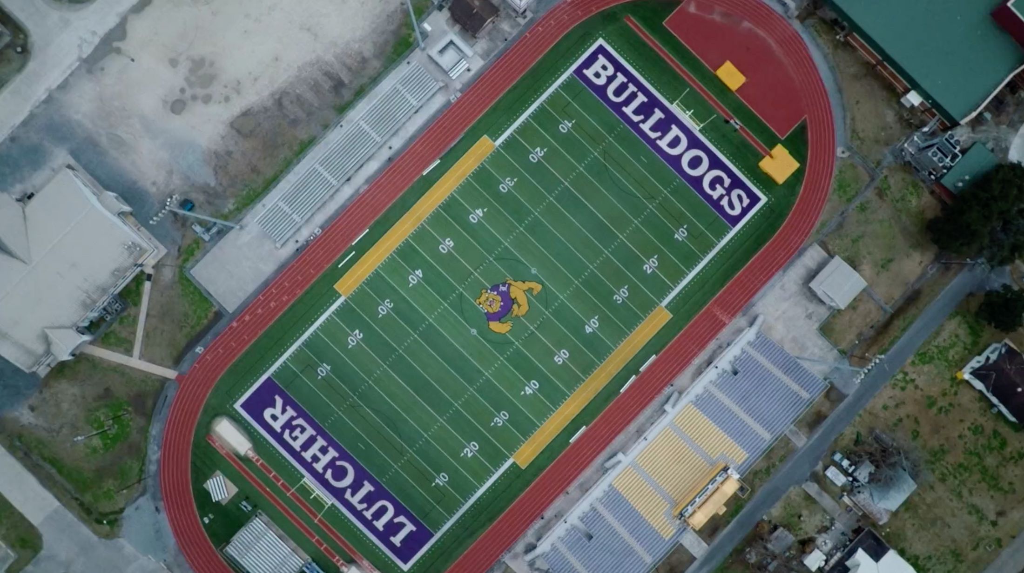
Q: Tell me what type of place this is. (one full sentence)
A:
This looks like a sports ground.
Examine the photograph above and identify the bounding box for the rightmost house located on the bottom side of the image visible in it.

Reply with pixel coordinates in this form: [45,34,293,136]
[961,337,1024,422]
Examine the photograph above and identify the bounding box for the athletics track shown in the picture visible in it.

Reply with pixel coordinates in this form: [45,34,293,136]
[160,0,835,573]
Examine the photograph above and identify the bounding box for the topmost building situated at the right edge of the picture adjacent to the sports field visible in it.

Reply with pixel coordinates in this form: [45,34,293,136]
[813,0,1024,130]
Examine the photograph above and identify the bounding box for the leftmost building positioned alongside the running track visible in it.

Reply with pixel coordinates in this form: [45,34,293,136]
[0,167,158,372]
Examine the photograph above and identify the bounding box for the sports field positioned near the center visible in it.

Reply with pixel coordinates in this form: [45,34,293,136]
[191,0,806,573]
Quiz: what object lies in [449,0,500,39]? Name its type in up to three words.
shed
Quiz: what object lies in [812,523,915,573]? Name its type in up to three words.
house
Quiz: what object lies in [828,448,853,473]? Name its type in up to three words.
truck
